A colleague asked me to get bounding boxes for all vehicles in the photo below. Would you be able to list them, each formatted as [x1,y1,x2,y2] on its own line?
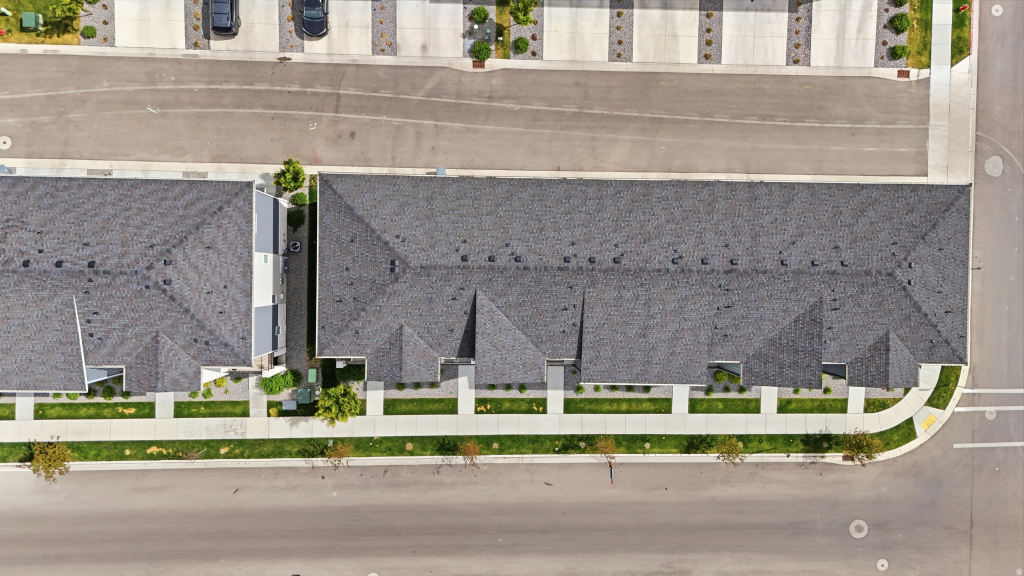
[209,0,241,36]
[299,0,331,38]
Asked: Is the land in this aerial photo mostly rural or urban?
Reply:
urban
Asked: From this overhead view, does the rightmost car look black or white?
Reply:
black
